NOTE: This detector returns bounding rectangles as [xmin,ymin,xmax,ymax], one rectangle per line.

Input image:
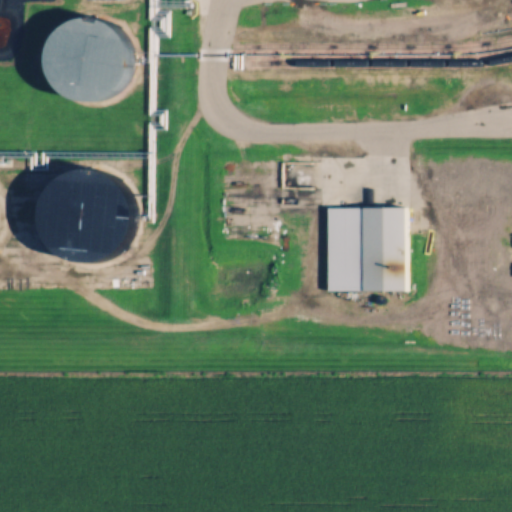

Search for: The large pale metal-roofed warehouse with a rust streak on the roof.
[327,207,410,291]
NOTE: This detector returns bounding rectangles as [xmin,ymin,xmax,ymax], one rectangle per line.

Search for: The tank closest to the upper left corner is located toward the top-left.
[42,16,135,104]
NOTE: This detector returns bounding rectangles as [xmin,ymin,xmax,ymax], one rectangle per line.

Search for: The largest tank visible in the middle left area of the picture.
[36,168,138,263]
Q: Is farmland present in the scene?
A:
Yes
